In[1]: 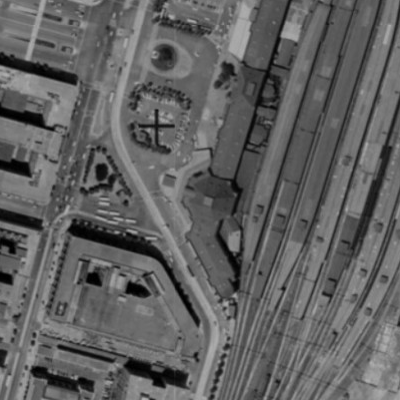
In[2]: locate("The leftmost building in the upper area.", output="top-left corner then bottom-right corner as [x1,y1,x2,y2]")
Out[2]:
[0,66,78,205]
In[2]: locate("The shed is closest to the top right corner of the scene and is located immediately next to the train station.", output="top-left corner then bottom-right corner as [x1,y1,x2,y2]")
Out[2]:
[282,5,308,42]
